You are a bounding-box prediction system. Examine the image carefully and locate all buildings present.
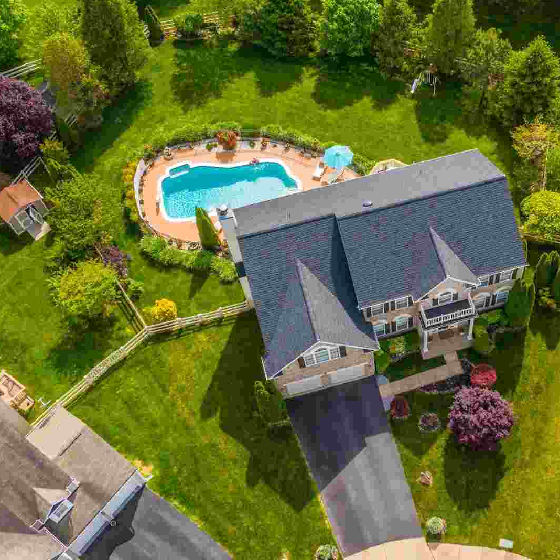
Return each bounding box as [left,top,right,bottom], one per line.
[0,180,45,238]
[0,395,145,560]
[218,146,532,397]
